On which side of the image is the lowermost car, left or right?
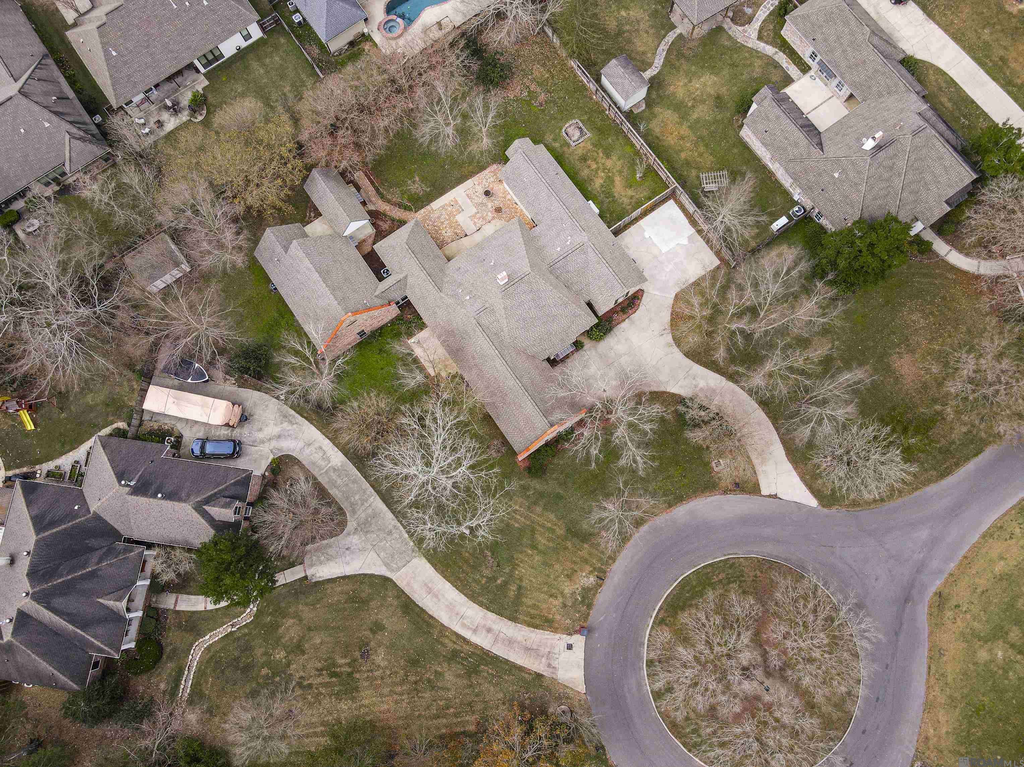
left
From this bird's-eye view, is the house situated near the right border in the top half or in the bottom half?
top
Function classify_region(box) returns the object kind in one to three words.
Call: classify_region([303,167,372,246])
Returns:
house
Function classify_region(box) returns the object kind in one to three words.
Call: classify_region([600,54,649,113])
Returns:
shed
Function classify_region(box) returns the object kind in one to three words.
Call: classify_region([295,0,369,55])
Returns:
building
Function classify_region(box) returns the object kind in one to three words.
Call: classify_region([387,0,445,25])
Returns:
swimming pool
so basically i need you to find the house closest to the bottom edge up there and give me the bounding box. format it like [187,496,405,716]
[0,434,258,691]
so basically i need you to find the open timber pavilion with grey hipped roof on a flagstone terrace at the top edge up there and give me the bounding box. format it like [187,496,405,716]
[669,0,738,37]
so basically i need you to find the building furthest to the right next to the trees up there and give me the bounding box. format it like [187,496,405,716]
[739,0,981,235]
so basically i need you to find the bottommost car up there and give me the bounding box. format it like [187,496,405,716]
[188,434,241,457]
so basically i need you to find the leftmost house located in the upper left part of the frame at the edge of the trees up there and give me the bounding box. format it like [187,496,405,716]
[0,0,118,223]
